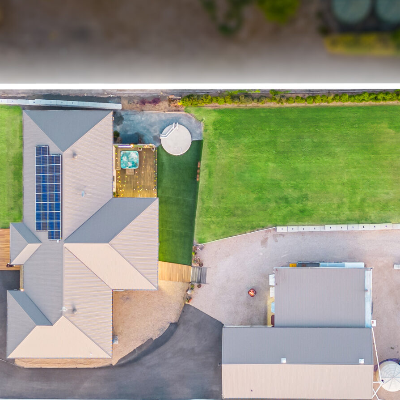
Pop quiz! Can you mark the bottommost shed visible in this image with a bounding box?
[219,325,374,399]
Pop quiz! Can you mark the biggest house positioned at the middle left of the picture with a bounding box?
[7,109,159,359]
